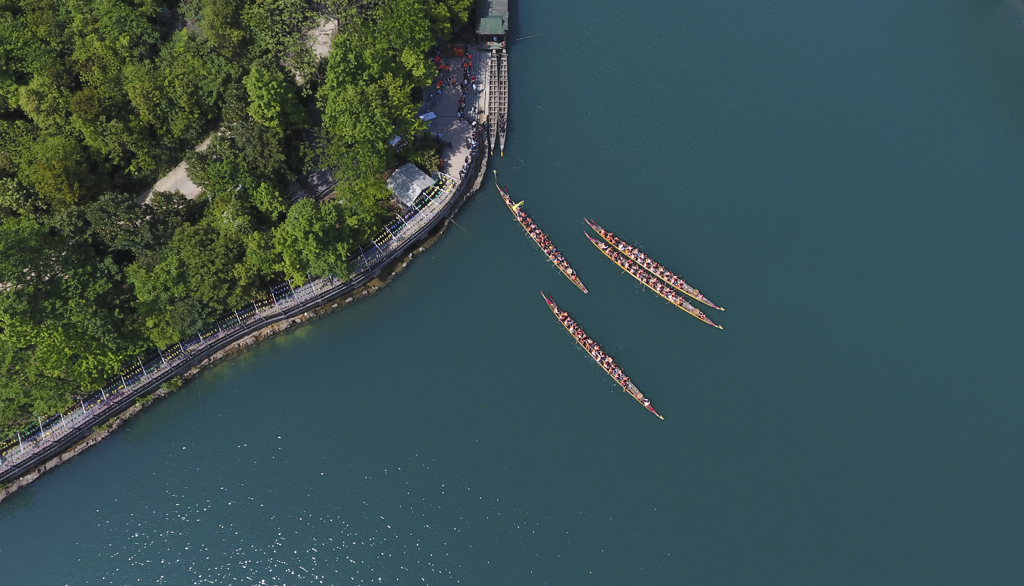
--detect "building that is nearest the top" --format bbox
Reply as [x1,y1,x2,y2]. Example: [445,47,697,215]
[476,0,509,52]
